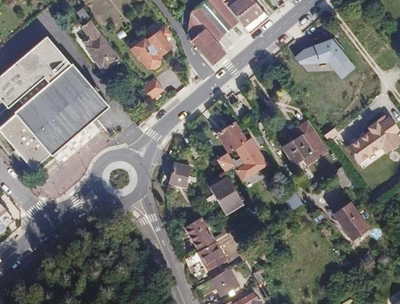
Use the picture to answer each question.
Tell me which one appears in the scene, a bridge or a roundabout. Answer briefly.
roundabout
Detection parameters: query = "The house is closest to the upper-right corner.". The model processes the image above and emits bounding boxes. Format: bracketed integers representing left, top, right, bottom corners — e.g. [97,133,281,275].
[295,38,356,79]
